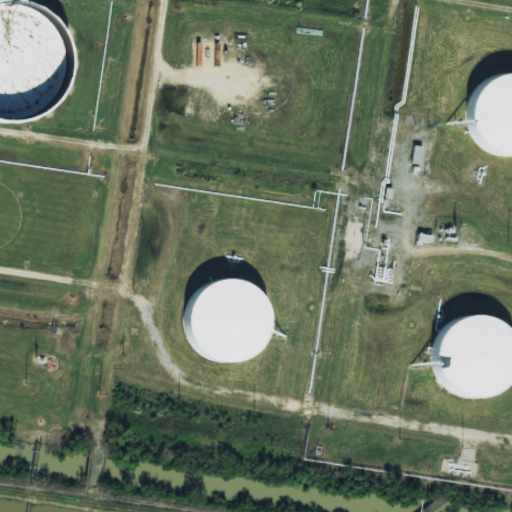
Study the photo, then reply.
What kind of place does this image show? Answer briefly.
industrial area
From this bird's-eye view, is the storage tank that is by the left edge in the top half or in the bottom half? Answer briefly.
top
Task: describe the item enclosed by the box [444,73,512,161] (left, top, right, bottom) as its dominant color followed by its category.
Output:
white storage tank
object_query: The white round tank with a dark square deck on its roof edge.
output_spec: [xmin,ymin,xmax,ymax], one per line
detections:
[409,314,512,402]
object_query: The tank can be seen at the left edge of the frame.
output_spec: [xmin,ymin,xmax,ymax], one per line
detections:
[0,0,78,125]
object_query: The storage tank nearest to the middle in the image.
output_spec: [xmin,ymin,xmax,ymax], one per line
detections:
[182,276,288,366]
